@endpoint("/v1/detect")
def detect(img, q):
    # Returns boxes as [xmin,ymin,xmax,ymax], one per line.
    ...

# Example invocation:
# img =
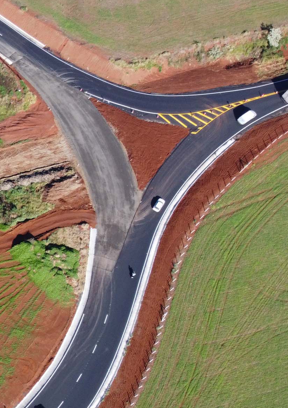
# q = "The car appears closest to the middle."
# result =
[152,198,164,214]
